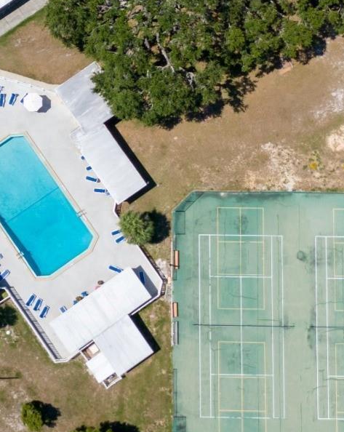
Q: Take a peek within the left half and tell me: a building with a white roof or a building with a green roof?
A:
building with a white roof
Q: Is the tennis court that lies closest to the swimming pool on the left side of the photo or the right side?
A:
right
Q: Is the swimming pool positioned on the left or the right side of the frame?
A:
left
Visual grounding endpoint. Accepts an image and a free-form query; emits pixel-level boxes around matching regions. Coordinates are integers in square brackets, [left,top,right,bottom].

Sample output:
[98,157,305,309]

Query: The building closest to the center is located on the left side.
[75,124,148,205]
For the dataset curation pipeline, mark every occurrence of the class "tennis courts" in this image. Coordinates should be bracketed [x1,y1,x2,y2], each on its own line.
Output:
[300,192,344,432]
[173,191,302,432]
